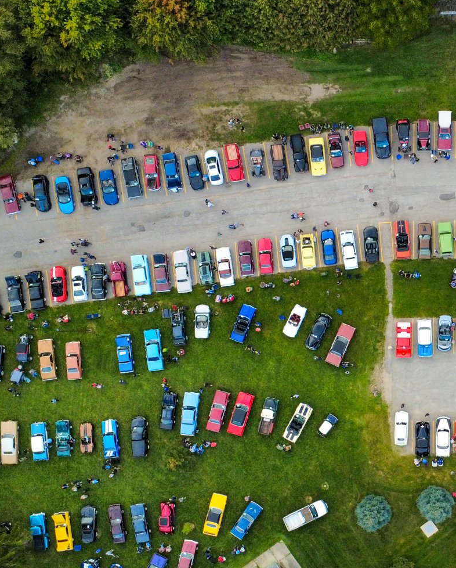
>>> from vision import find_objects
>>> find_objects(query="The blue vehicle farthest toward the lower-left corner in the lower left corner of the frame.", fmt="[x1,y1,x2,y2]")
[30,512,49,552]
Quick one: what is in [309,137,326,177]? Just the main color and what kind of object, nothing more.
yellow car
